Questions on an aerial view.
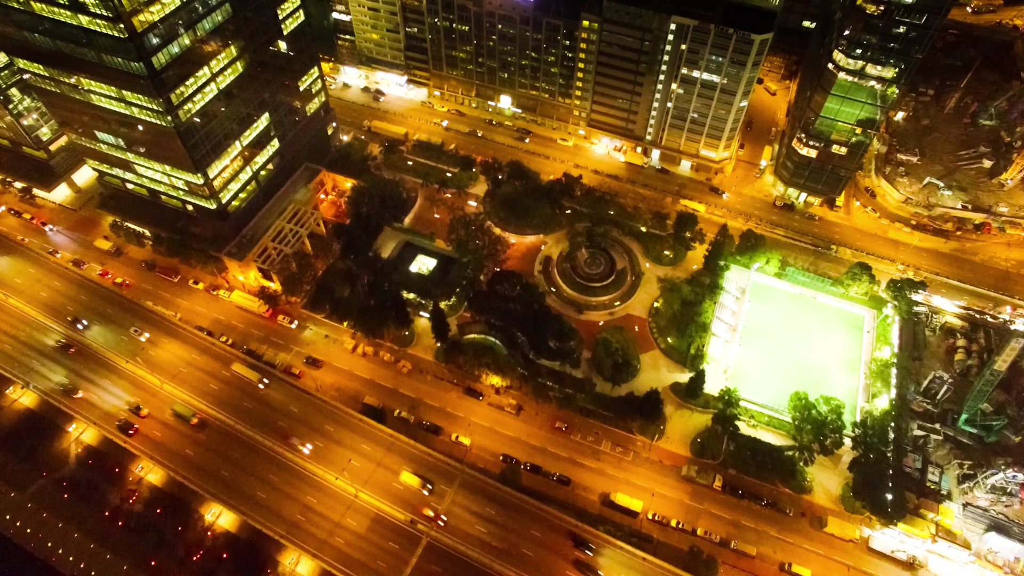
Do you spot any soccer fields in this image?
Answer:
Yes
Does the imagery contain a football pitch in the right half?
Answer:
Yes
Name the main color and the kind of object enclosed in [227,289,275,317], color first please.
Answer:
yellow truck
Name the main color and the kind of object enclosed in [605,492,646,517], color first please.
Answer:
yellow truck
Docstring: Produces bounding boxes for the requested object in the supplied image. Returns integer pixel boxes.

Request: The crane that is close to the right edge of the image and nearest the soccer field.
[943,322,1024,453]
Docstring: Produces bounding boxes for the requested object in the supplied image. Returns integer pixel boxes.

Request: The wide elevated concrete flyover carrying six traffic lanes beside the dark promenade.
[0,230,702,576]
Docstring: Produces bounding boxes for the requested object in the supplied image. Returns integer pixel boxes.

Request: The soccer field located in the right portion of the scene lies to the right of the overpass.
[727,280,866,443]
